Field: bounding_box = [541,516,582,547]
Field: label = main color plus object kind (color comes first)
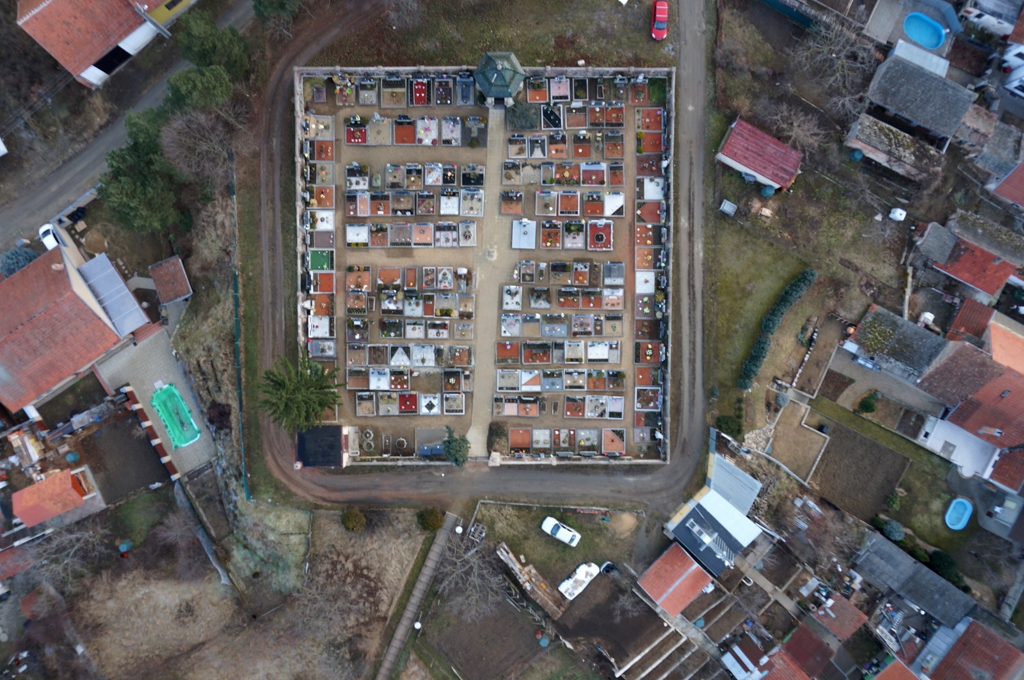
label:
white car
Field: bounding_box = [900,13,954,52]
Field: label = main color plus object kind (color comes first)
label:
blue swimming pool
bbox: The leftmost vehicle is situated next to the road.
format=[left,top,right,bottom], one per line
[33,219,63,254]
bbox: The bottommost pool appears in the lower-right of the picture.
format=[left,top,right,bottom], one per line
[944,499,971,529]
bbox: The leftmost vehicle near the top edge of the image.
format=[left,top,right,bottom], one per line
[651,0,671,39]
